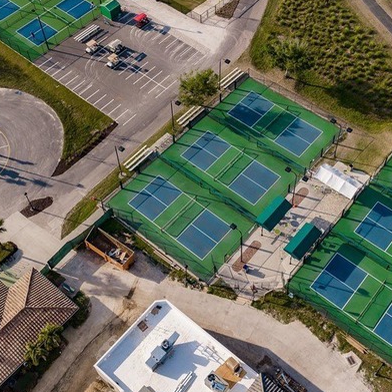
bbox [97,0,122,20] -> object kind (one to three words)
shed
